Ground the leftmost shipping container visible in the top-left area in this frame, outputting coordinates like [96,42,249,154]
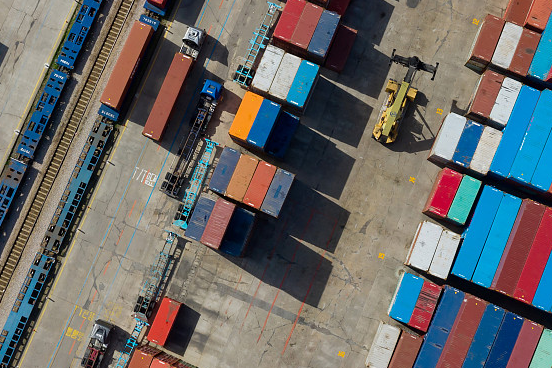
[102,21,157,111]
